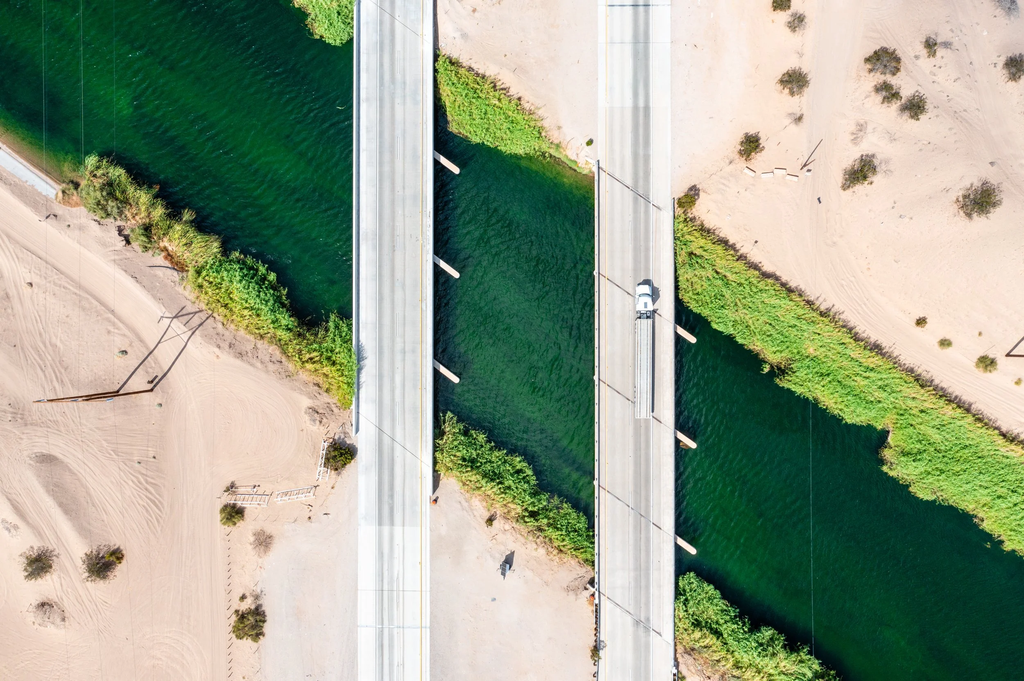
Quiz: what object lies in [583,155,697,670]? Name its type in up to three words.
bridge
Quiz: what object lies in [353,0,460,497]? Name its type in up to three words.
bridge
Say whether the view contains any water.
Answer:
Yes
